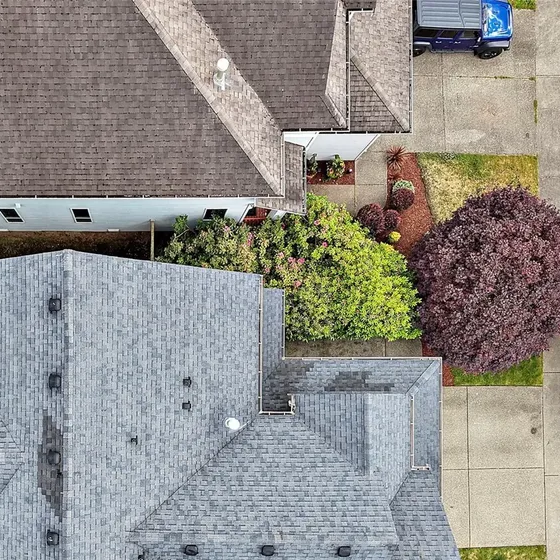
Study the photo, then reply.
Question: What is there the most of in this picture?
buildings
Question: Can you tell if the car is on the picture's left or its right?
right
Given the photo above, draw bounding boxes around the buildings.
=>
[0,250,461,560]
[0,0,414,232]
